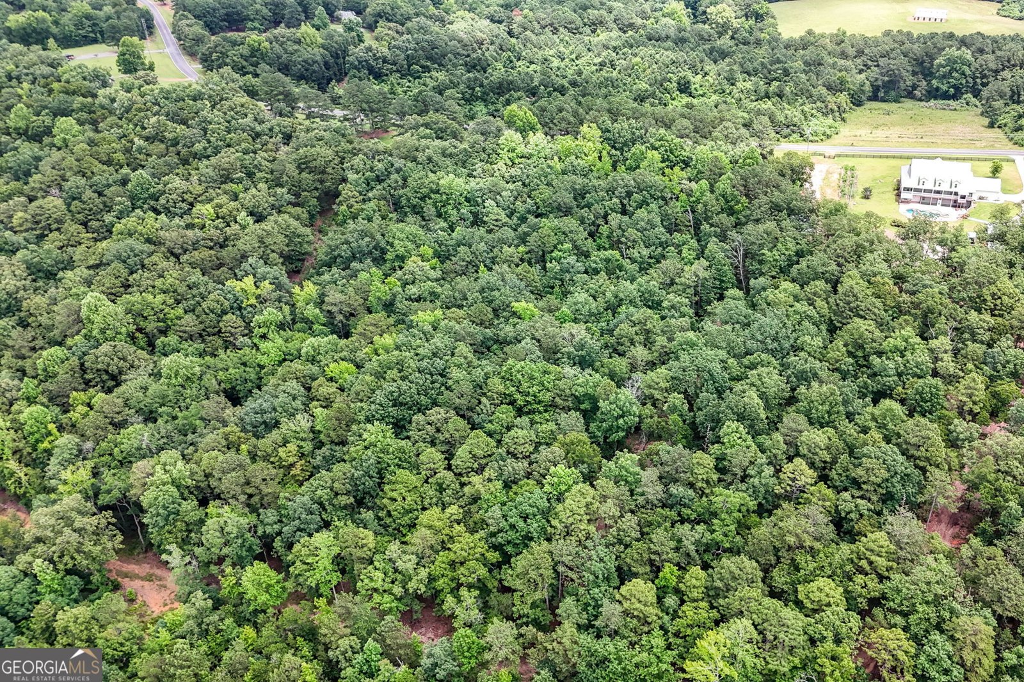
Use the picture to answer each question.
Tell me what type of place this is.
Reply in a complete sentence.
What you see here is a forest.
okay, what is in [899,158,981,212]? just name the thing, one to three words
house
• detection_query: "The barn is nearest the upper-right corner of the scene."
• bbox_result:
[911,9,949,22]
